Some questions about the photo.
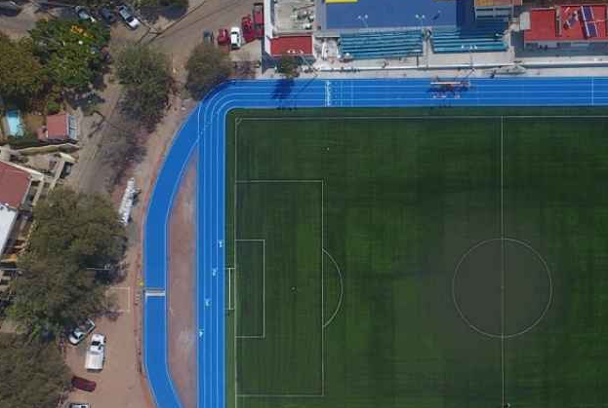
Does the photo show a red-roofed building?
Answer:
Yes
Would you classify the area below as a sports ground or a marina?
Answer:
sports ground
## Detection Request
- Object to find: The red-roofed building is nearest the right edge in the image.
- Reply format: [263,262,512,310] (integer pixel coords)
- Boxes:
[519,3,608,46]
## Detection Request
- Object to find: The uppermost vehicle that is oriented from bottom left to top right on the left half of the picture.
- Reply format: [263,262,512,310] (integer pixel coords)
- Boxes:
[68,318,95,345]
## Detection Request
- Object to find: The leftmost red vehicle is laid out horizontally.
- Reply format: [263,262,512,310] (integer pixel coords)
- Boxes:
[70,377,97,391]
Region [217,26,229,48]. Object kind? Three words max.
vehicle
